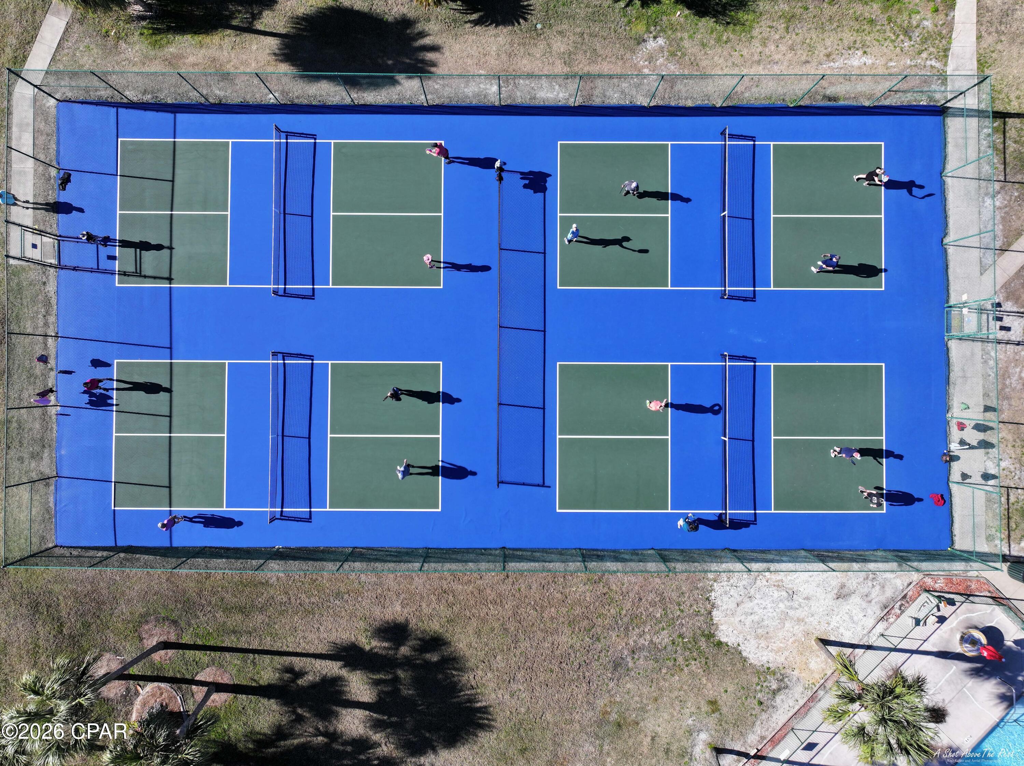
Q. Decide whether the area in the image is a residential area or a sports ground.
sports ground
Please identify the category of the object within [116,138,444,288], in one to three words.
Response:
sports court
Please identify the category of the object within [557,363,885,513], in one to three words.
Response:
sports court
